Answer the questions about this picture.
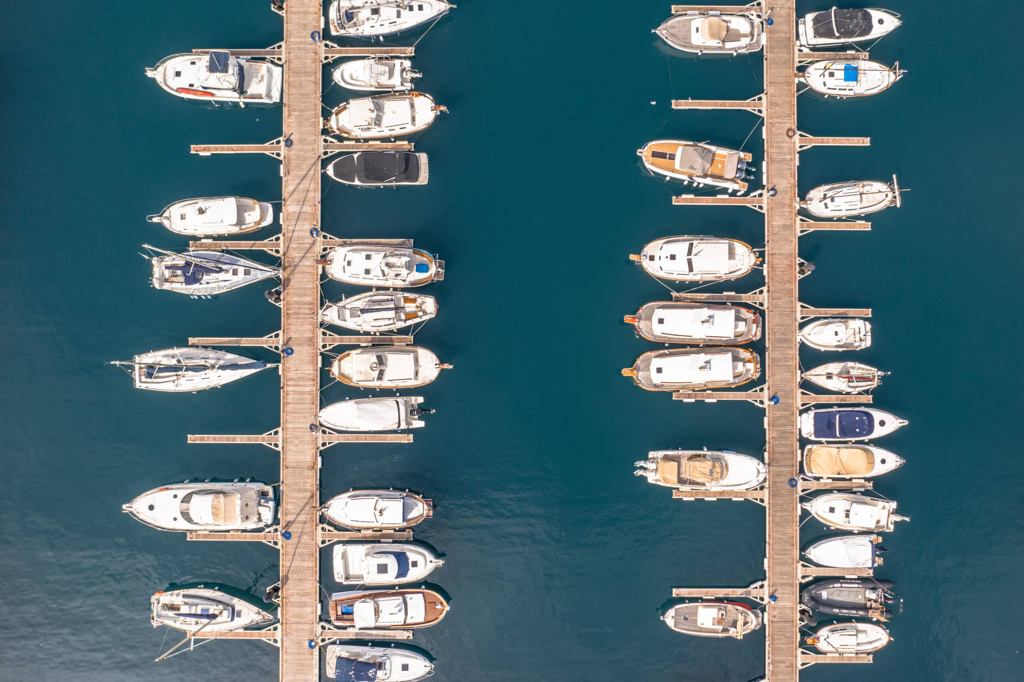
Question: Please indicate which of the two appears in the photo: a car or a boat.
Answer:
boat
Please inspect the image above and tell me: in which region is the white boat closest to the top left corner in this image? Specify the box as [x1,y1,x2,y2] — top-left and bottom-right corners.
[145,52,283,108]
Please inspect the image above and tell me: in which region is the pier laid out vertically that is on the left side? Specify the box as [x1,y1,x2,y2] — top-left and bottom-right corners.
[264,0,326,682]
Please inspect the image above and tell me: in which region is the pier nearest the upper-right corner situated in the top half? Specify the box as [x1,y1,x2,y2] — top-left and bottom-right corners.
[795,43,870,68]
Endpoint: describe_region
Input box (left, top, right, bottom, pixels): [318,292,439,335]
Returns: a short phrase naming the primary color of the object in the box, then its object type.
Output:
white boat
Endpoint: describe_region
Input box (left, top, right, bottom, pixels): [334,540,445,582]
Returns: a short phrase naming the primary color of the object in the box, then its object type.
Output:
white boat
